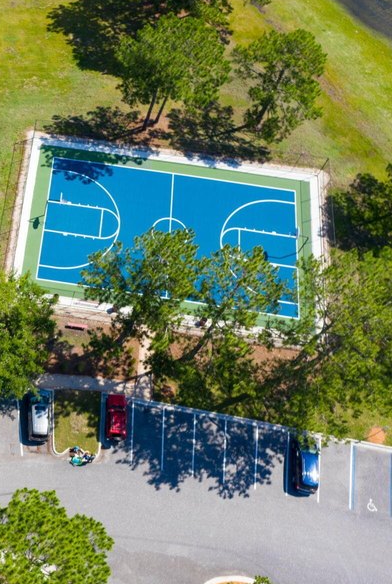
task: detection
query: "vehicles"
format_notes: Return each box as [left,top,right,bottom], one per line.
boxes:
[105,395,130,446]
[28,392,55,446]
[294,441,324,500]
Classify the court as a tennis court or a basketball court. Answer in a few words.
basketball court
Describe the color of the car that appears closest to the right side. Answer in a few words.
blue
